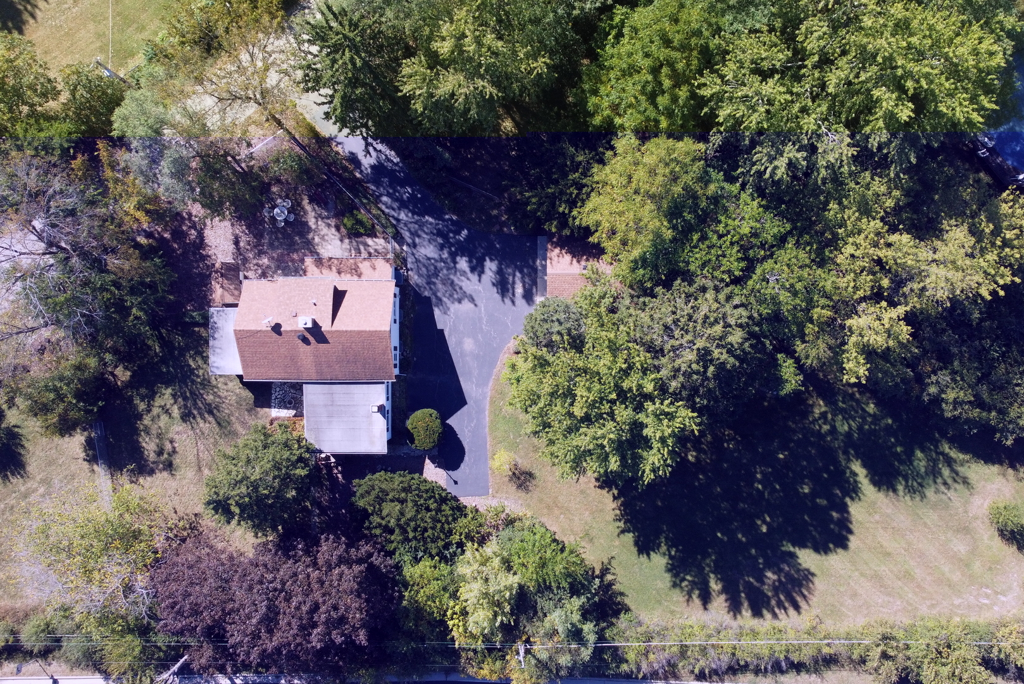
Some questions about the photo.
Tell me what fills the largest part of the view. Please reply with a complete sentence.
Most of the picture is covered by trees.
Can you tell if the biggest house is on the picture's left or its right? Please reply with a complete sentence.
The biggest house sits on the left side.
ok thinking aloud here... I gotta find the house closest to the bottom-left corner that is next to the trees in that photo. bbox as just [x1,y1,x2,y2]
[208,256,400,456]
